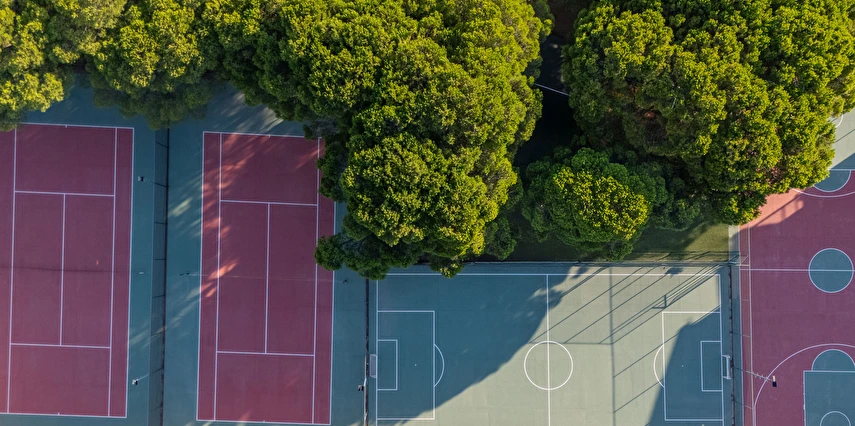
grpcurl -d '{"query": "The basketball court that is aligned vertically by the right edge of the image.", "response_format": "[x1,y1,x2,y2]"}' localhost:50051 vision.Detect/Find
[739,18,855,426]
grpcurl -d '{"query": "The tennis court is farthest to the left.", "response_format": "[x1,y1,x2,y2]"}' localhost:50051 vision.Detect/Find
[0,28,167,426]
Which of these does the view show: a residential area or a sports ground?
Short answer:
sports ground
